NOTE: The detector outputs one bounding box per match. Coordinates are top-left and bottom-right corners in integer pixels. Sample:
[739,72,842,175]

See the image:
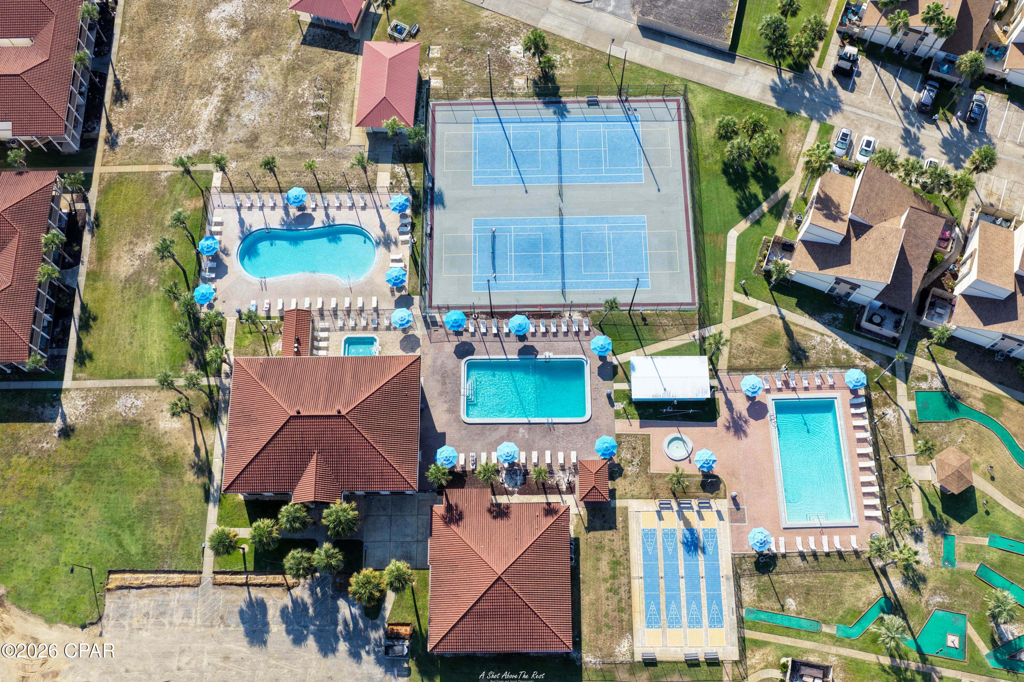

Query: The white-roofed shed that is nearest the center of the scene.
[630,356,714,401]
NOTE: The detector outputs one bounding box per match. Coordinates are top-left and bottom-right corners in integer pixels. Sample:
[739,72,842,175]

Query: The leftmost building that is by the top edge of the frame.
[0,0,101,152]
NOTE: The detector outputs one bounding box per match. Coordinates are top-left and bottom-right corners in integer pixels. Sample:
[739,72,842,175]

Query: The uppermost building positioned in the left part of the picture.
[289,0,369,34]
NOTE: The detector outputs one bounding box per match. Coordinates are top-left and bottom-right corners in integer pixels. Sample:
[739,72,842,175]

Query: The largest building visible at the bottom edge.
[426,494,574,653]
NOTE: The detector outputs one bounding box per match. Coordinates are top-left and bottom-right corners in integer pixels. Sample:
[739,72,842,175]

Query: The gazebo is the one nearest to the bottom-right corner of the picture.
[930,446,974,497]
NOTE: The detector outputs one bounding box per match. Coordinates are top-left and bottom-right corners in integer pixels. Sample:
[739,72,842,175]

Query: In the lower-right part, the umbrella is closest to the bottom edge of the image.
[749,528,771,550]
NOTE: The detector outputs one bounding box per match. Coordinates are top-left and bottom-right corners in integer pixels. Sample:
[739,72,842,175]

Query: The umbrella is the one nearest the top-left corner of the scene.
[199,237,220,255]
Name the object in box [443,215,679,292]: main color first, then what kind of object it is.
blue tennis court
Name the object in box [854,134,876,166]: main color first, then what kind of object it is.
white car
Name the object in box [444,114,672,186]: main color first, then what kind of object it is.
blue tennis court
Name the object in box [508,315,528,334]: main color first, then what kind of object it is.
blue umbrella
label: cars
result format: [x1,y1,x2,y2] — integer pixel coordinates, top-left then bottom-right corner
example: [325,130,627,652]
[833,126,853,159]
[918,158,941,190]
[917,81,939,113]
[965,94,987,125]
[854,134,876,166]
